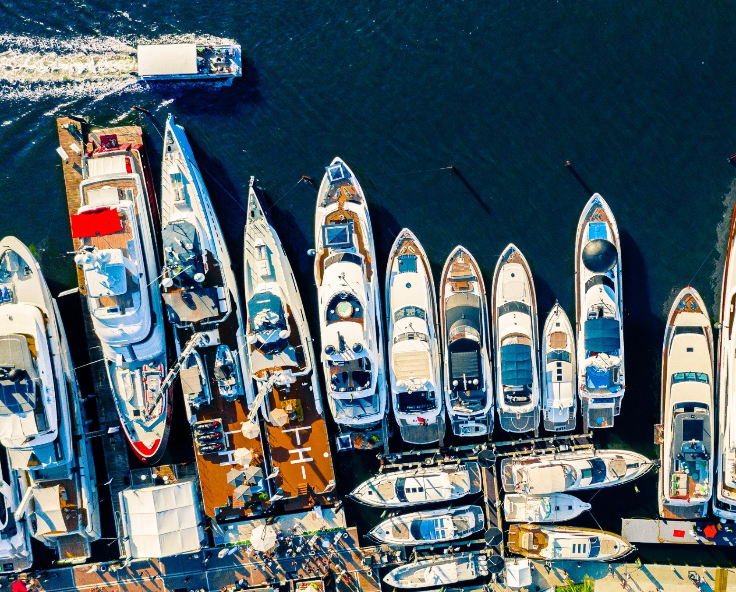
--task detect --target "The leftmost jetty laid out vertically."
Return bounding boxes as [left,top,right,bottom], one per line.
[56,118,131,549]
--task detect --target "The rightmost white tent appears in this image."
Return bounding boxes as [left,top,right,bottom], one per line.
[507,557,532,587]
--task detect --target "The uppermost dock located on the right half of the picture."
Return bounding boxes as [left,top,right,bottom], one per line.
[378,432,595,471]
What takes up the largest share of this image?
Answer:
water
